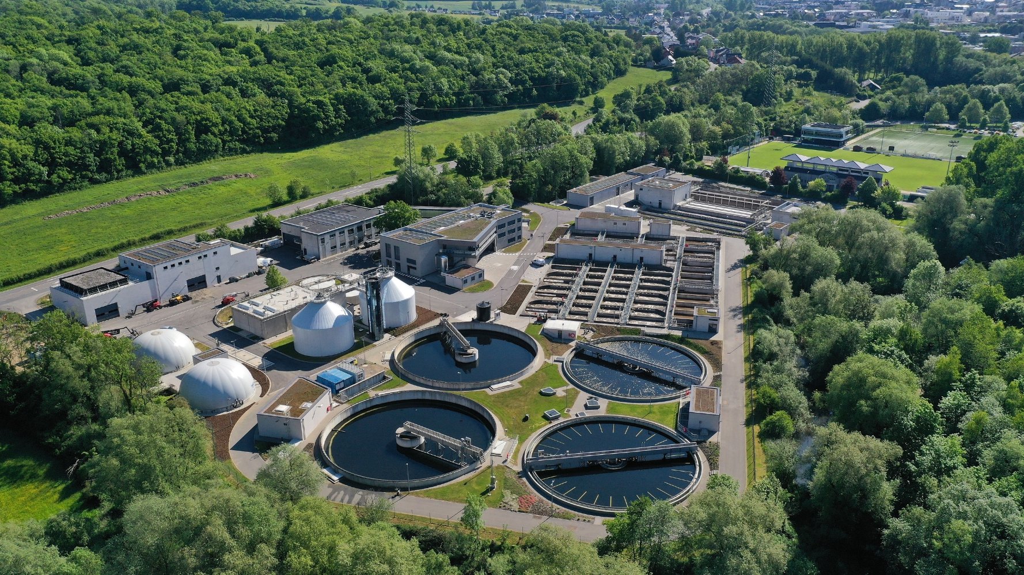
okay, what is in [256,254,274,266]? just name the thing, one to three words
vehicle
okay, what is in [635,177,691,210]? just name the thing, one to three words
building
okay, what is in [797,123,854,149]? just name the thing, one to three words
building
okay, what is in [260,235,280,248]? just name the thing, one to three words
vehicle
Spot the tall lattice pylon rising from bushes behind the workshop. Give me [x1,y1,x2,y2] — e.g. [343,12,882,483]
[388,94,421,194]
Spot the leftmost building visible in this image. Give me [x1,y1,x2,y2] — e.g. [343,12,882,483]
[53,238,258,325]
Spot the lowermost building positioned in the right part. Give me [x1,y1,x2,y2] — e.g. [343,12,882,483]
[675,384,722,438]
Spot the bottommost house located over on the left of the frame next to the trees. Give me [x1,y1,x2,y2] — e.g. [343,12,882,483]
[255,384,330,439]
